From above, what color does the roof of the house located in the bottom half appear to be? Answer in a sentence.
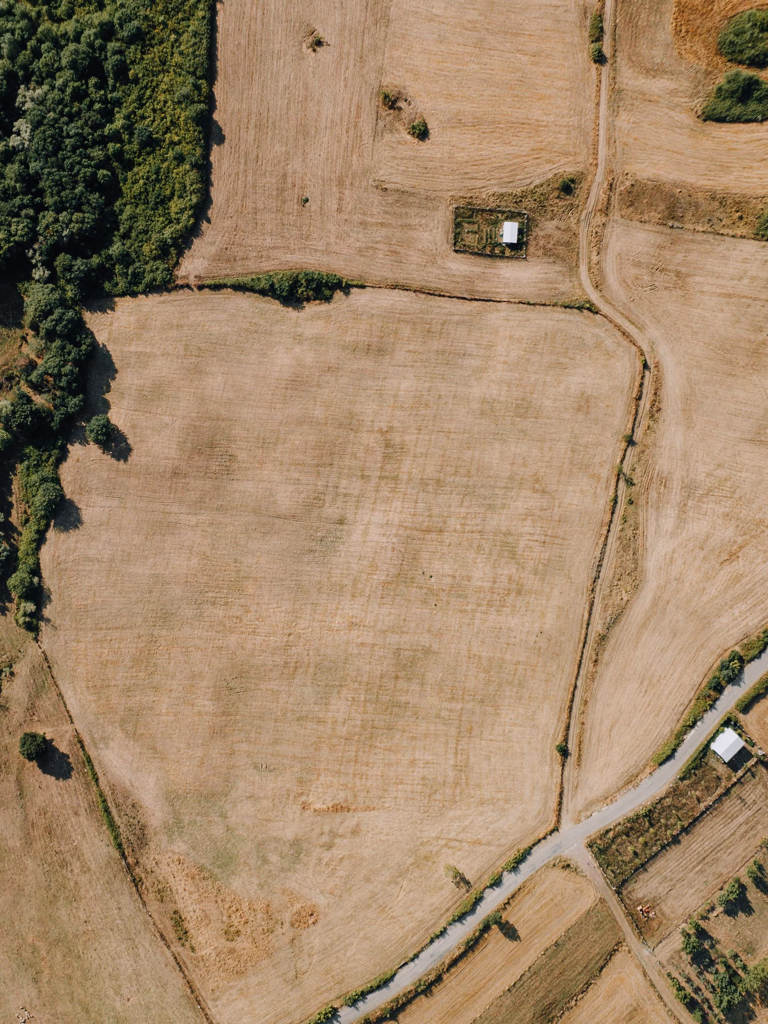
From above, the roof of the house located in the bottom half looks white.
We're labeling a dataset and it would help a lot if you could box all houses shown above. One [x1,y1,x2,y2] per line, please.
[503,221,518,244]
[709,726,745,761]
